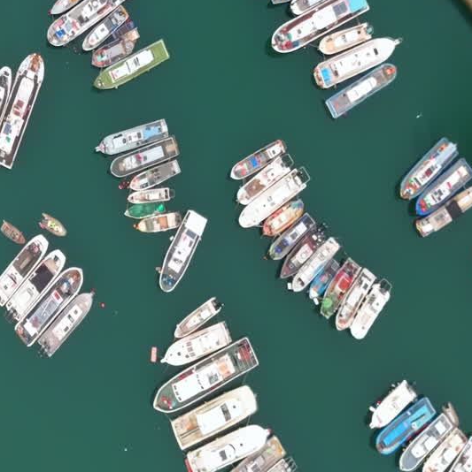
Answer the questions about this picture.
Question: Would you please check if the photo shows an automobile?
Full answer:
No, the photo shows no automobile.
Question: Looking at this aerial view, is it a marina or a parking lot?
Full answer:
The area seen from above is a marina.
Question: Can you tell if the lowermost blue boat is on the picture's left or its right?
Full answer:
The lowermost blue boat sits on the right side.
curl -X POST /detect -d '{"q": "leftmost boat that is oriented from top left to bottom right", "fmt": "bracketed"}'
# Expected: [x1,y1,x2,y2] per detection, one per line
[1,221,25,243]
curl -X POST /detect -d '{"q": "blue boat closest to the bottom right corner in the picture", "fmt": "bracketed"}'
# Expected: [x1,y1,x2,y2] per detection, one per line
[376,398,438,455]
